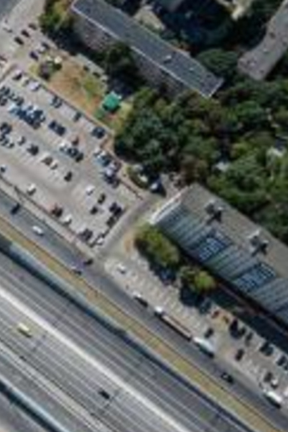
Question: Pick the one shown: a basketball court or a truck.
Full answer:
I can see a truck in this picture.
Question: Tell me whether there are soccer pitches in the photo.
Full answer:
No, I can't see a single soccer pitch in this photo.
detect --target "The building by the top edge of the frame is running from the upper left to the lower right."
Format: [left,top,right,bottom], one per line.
[69,0,223,110]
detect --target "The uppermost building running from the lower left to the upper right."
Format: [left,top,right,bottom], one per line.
[223,11,288,98]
